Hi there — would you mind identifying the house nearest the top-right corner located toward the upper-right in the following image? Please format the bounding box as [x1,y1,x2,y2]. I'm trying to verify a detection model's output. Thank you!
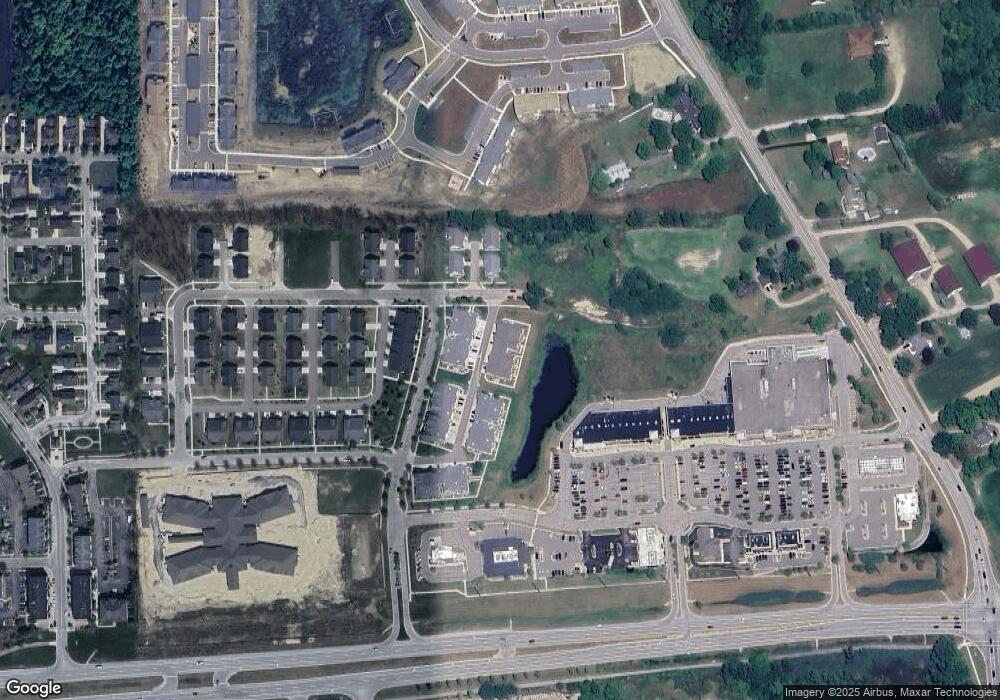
[848,27,876,58]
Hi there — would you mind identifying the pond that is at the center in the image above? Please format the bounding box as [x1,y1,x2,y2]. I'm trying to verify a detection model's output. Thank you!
[513,340,577,479]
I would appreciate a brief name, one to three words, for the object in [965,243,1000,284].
barn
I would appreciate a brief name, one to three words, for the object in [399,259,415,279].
house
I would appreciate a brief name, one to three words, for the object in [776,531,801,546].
building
